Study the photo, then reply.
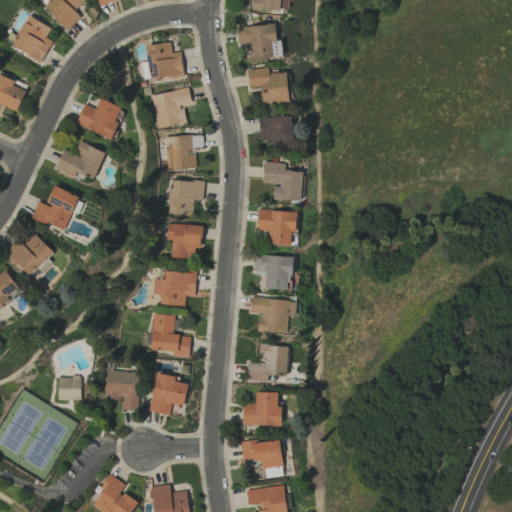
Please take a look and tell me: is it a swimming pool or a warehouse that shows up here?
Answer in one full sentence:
The one in the frame is a swimming pool.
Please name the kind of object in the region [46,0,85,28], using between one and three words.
house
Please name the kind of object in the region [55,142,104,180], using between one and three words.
house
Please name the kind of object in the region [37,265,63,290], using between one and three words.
swimming pool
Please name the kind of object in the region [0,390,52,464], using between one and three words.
tennis court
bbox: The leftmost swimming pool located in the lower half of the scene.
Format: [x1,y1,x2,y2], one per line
[0,296,30,321]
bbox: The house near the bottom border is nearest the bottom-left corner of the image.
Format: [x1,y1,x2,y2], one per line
[92,476,138,512]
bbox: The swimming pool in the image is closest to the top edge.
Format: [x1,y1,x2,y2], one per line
[12,9,31,34]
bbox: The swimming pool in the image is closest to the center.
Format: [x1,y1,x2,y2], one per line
[127,268,161,308]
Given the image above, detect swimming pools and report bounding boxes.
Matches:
[135,41,150,62]
[155,361,183,374]
[37,265,63,290]
[52,340,95,378]
[0,296,30,321]
[12,9,31,34]
[96,156,118,190]
[127,268,161,308]
[50,214,99,246]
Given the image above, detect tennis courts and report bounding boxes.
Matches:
[18,408,78,480]
[0,390,52,464]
